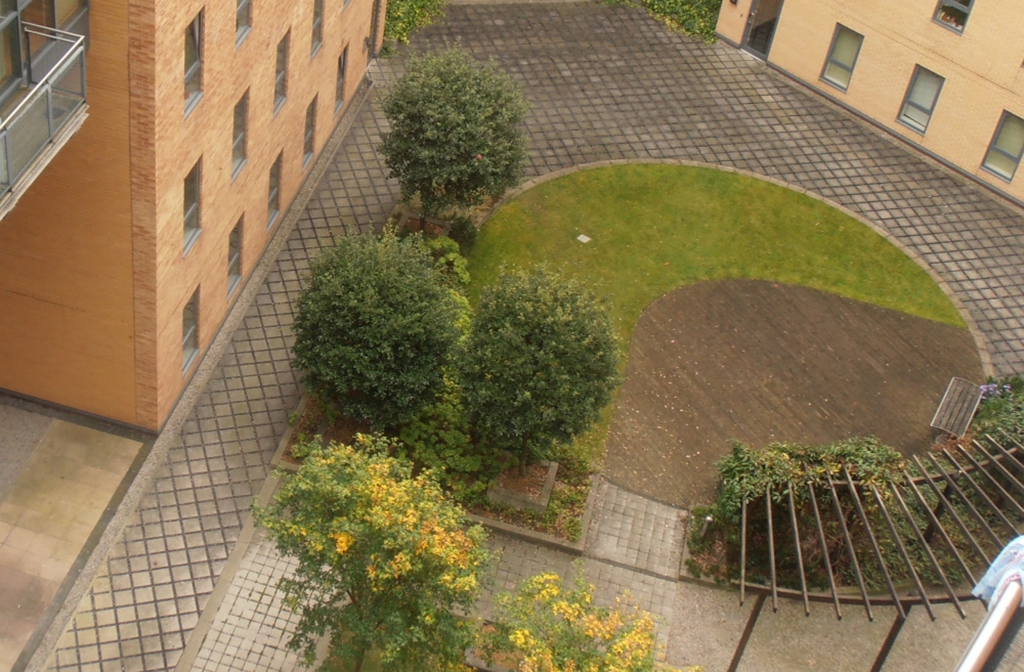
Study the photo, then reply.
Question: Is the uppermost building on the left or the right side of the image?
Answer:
right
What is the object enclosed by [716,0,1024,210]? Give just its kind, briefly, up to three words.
building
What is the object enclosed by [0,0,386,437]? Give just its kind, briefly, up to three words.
building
